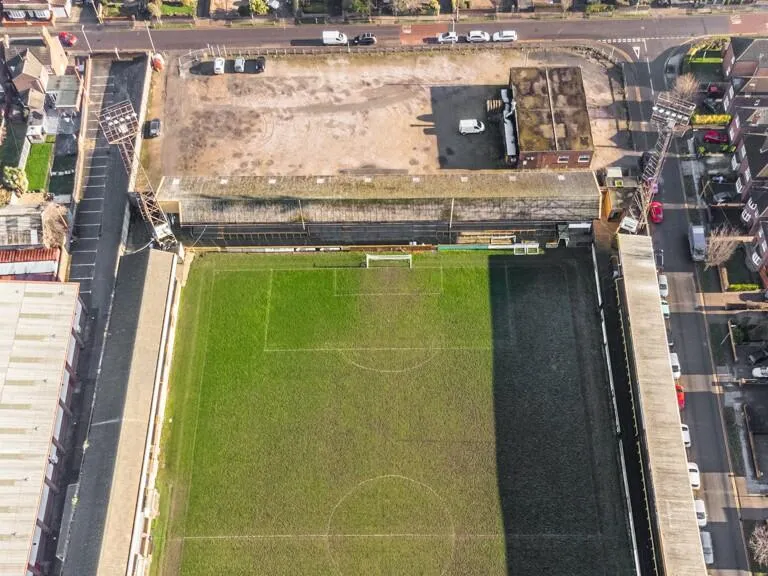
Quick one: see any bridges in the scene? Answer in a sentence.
No, the scene contains no bridge.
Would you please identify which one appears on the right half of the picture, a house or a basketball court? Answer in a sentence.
The feature located on the right half of the picture is a house.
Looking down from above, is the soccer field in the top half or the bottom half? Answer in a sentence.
The soccer field sits in the bottom half of the picture.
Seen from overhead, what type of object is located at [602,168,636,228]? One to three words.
shed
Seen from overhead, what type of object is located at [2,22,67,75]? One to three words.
house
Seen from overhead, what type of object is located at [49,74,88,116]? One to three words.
building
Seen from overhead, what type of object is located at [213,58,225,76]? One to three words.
vehicle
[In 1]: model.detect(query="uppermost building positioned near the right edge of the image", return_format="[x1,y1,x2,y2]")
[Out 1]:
[723,33,768,88]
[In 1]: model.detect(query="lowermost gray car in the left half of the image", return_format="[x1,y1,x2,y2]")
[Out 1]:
[148,122,160,138]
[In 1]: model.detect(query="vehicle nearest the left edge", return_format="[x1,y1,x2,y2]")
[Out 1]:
[60,33,78,48]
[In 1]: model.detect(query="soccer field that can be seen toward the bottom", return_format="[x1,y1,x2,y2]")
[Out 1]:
[147,246,638,576]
